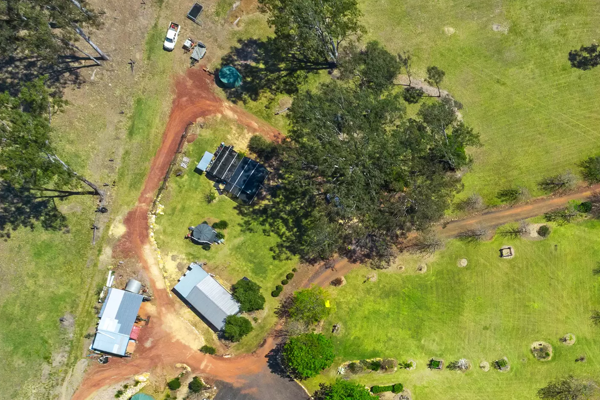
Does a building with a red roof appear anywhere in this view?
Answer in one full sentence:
No, the frame has no building with a red roof in it.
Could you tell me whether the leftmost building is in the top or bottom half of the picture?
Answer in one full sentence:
The bottom half of the photo is where the leftmost building is.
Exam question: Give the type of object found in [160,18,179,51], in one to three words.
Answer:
vehicle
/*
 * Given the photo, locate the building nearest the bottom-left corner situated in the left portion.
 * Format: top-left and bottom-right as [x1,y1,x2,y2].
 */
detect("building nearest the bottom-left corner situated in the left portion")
[93,288,151,356]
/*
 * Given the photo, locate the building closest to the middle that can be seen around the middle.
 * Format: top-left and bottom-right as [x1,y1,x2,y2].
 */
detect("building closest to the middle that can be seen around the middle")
[208,146,274,208]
